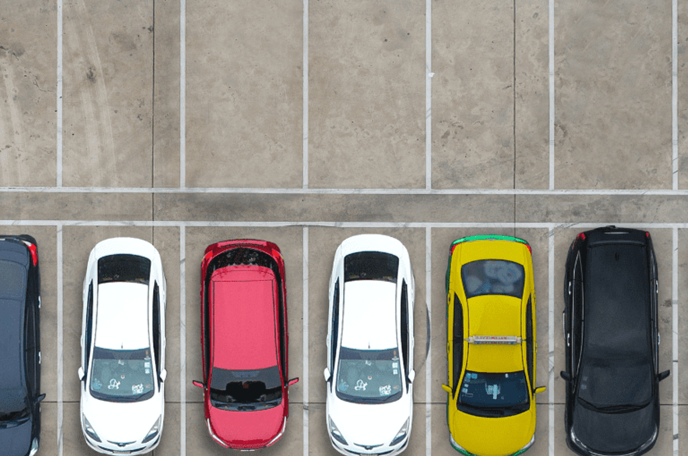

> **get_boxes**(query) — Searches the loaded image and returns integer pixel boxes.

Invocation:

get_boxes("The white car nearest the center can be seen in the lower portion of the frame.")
[320,233,419,456]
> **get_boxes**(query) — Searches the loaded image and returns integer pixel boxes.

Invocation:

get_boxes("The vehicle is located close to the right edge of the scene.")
[558,224,671,456]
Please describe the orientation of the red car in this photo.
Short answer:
from top to bottom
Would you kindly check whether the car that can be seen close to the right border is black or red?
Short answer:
black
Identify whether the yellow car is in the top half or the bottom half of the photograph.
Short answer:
bottom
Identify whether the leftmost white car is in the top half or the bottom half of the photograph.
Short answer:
bottom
